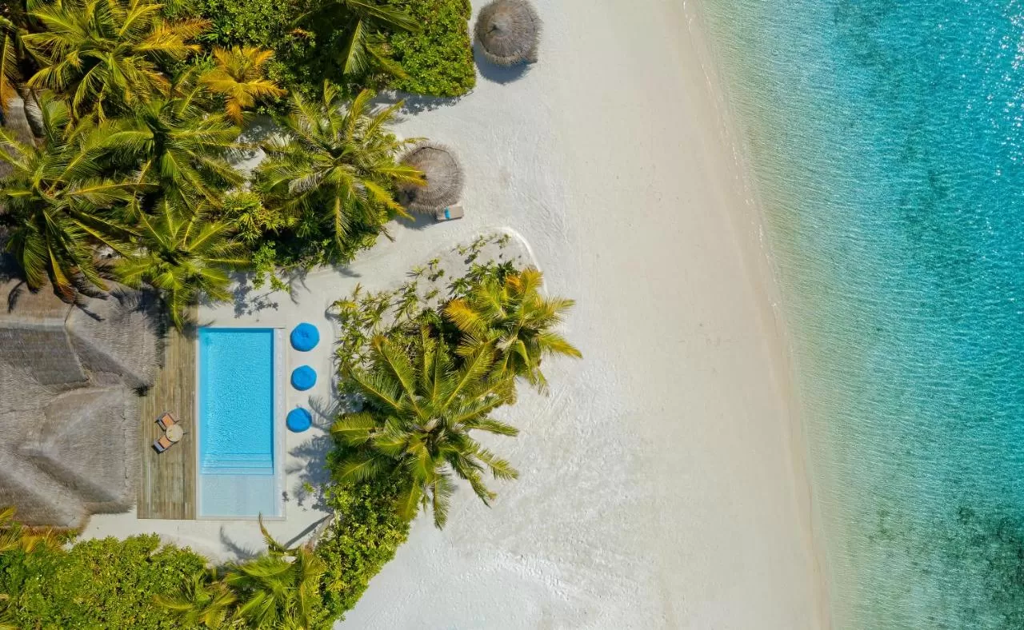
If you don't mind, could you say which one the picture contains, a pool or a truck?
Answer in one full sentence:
The one in the frame is a pool.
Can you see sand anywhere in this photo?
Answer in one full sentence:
Yes, there's sand in this view.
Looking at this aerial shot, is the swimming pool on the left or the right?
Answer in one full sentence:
It is on the left.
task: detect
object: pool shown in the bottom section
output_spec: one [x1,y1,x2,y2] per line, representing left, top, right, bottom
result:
[195,324,286,521]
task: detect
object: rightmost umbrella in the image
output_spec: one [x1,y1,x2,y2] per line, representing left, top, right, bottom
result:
[476,0,543,67]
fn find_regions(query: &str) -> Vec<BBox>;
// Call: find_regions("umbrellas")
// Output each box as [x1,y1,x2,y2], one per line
[400,146,468,215]
[476,0,543,67]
